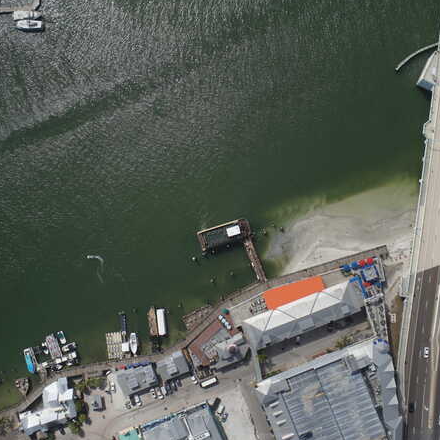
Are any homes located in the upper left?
No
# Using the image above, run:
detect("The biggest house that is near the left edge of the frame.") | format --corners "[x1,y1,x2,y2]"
[21,405,78,434]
